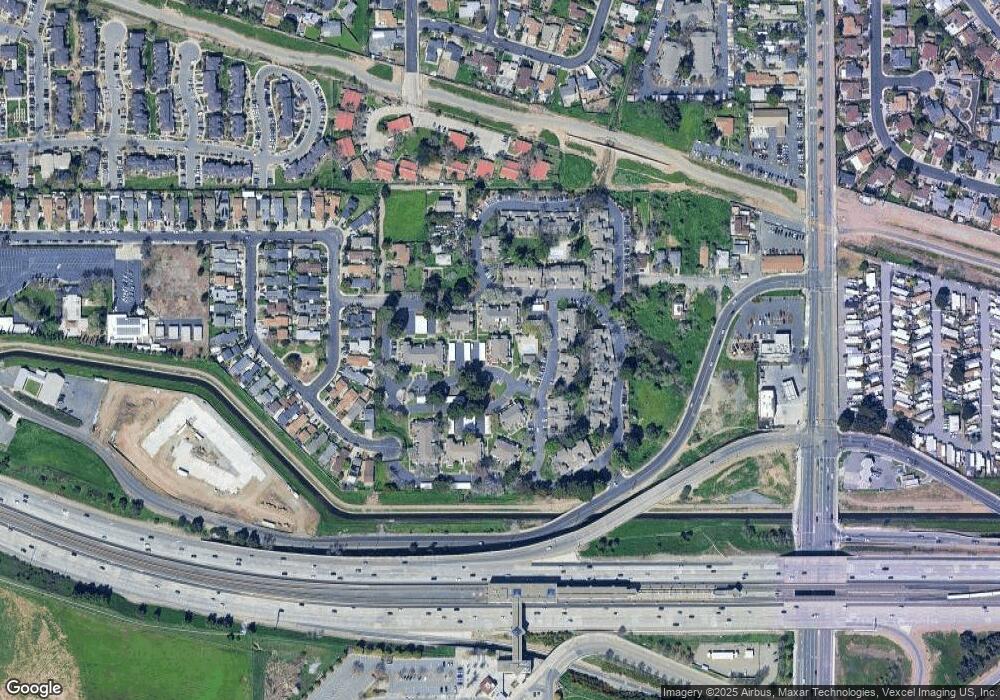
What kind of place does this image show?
residential area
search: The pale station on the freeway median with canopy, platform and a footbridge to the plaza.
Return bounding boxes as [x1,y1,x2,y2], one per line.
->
[486,585,741,674]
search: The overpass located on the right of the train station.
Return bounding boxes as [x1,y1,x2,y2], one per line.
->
[786,556,851,632]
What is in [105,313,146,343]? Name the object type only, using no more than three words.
building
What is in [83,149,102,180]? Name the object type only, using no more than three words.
house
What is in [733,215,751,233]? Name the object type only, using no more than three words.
house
